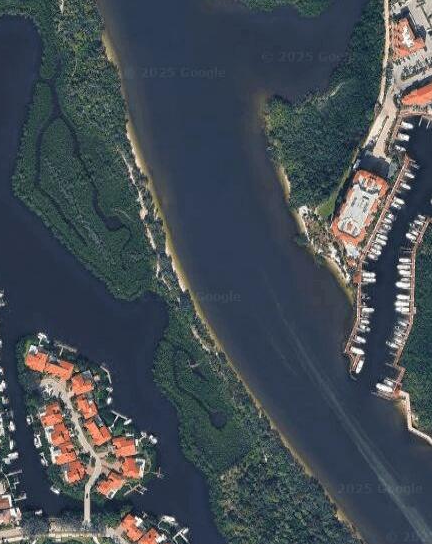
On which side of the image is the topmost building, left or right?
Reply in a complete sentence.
You can find the topmost building on the right side of the picture.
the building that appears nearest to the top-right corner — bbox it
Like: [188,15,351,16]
[391,16,430,58]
